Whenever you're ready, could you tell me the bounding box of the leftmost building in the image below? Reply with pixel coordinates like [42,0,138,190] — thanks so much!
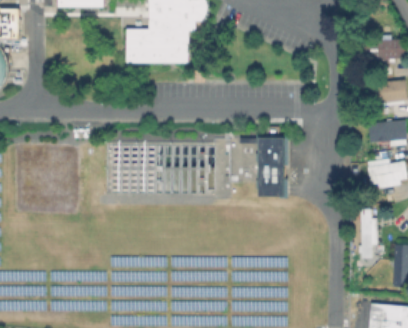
[0,8,18,38]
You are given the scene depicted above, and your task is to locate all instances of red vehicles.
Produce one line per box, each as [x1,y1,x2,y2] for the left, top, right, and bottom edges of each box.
[234,10,243,22]
[394,215,406,226]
